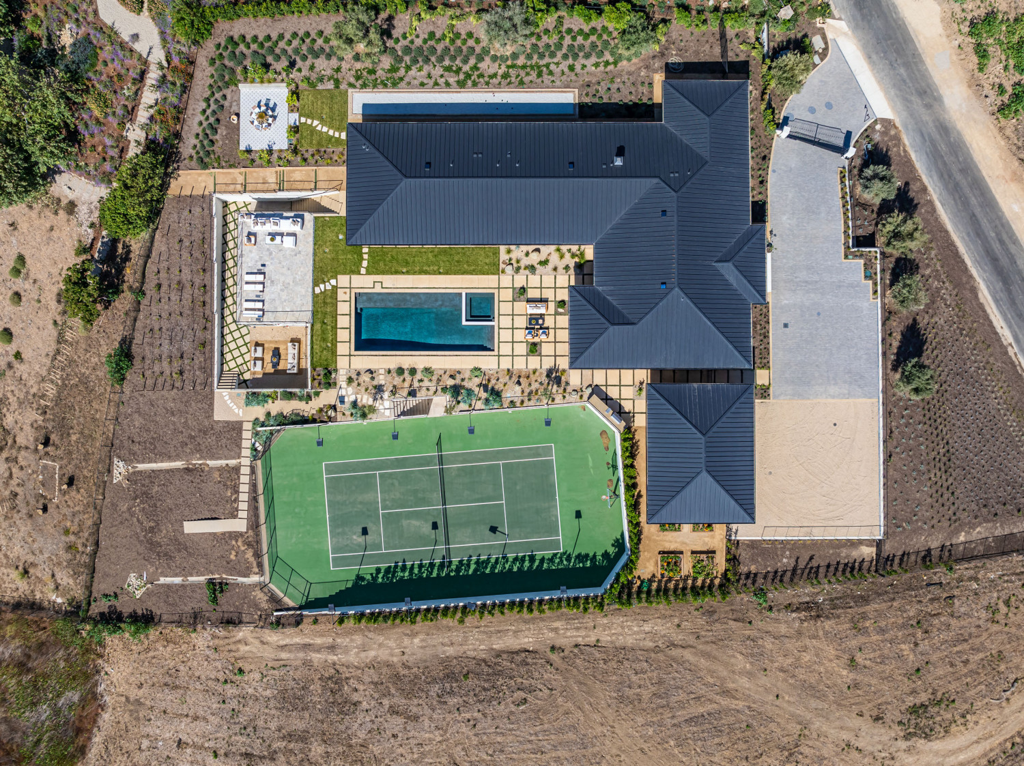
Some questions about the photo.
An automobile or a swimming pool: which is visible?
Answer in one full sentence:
It is a swimming pool that can be seen here.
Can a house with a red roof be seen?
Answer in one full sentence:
No, no house with a red roof is visible in the scene.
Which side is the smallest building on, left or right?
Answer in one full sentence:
It is on the right.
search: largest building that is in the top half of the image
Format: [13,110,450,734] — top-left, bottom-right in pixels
[346,79,766,370]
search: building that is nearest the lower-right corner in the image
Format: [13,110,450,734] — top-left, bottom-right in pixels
[646,382,756,525]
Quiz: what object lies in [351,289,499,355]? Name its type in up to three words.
swimming pool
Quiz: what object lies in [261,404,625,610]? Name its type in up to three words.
tennis court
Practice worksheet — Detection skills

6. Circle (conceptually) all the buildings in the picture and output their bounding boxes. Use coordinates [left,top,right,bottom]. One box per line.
[346,79,766,370]
[646,382,756,525]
